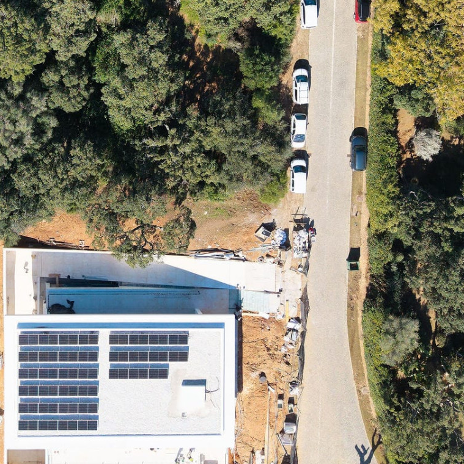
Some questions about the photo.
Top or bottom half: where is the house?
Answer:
bottom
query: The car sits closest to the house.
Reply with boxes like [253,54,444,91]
[289,158,308,194]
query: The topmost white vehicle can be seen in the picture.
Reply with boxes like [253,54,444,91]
[299,0,318,30]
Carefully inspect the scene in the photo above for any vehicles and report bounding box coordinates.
[348,132,368,167]
[289,158,308,194]
[291,69,309,105]
[352,0,370,23]
[290,113,308,148]
[299,0,318,30]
